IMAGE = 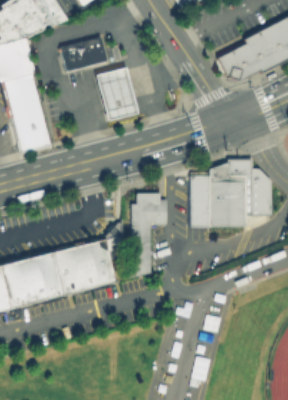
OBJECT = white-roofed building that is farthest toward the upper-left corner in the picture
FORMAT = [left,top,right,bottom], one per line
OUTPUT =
[0,0,68,44]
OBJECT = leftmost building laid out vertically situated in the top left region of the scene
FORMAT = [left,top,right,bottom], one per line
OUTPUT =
[0,38,53,152]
